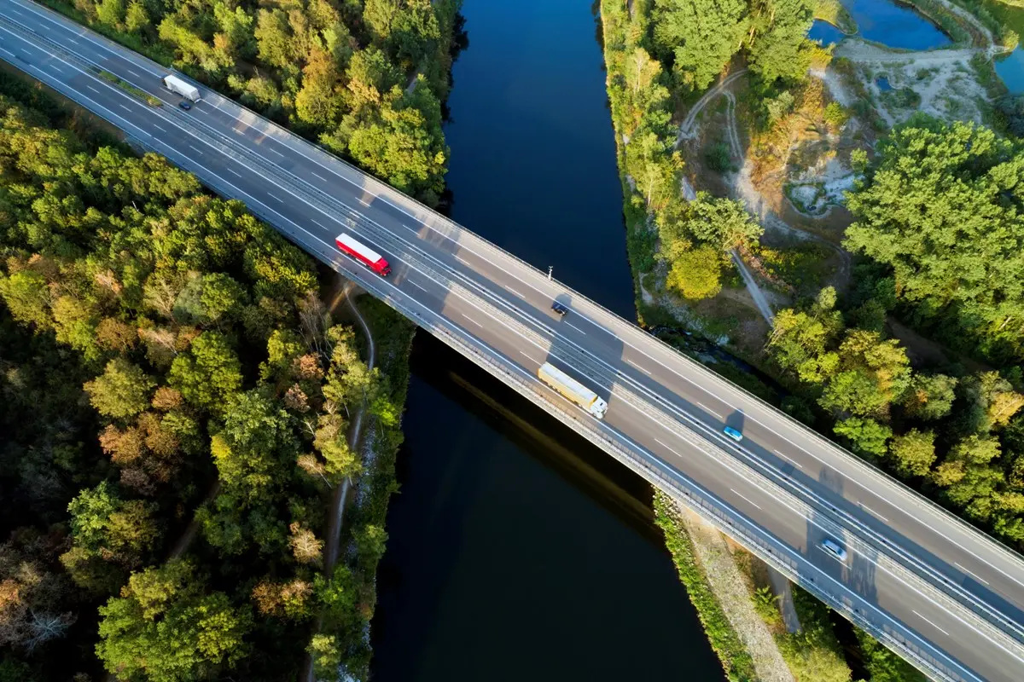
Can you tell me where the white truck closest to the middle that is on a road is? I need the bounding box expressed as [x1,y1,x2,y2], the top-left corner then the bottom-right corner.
[540,362,609,418]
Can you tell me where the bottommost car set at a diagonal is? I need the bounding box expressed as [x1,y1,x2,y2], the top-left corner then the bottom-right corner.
[819,537,846,559]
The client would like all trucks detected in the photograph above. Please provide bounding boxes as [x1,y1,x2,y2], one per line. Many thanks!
[335,232,389,276]
[162,73,203,101]
[540,362,609,418]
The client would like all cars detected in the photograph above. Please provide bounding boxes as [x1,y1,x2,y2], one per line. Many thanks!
[550,303,570,317]
[178,101,191,109]
[819,537,846,559]
[721,425,742,442]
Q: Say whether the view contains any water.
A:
Yes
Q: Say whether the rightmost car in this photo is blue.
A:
Yes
